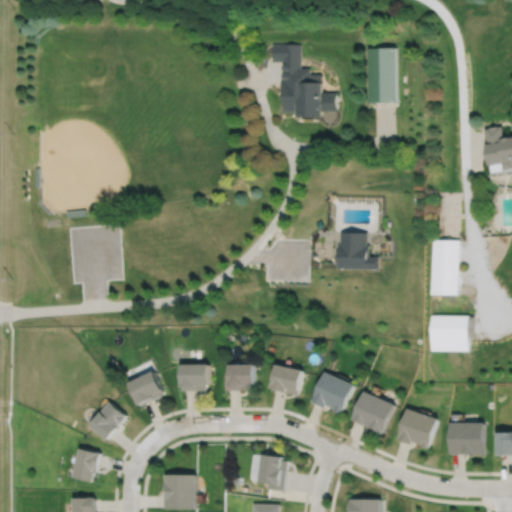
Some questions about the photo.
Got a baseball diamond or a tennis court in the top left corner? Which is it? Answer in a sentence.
The feature located in the top left corner is a baseball diamond.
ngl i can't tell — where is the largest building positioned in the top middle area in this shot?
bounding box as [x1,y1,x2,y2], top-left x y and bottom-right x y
[271,42,337,121]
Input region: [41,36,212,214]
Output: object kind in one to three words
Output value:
baseball field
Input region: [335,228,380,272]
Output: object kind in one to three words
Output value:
building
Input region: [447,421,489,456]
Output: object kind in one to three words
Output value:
house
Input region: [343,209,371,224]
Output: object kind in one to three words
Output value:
swimming pool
